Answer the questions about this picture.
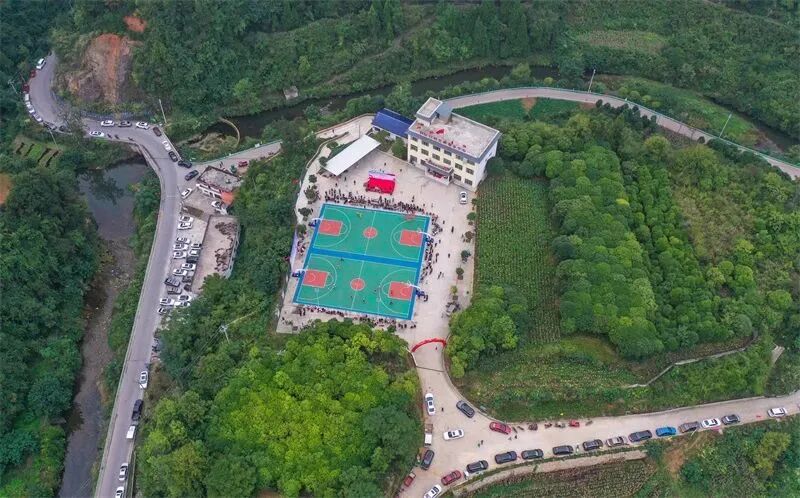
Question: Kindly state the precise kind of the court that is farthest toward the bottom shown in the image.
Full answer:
It turns out the court that is farthest toward the bottom is a basketball court.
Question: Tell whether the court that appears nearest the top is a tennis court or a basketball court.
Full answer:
It turns out the court that appears nearest the top is a basketball court.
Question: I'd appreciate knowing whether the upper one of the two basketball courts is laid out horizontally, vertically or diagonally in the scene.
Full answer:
From this overhead view, the upper one of the two basketball courts appears to run horizontally.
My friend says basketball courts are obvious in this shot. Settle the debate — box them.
[313,206,426,262]
[297,253,417,317]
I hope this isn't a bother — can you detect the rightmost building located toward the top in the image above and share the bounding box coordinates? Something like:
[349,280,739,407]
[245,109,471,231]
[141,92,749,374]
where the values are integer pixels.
[406,96,503,191]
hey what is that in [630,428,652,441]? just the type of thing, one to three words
vehicle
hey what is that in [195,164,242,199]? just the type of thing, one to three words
house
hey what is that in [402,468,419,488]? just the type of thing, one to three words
vehicle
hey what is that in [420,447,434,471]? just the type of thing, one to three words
car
